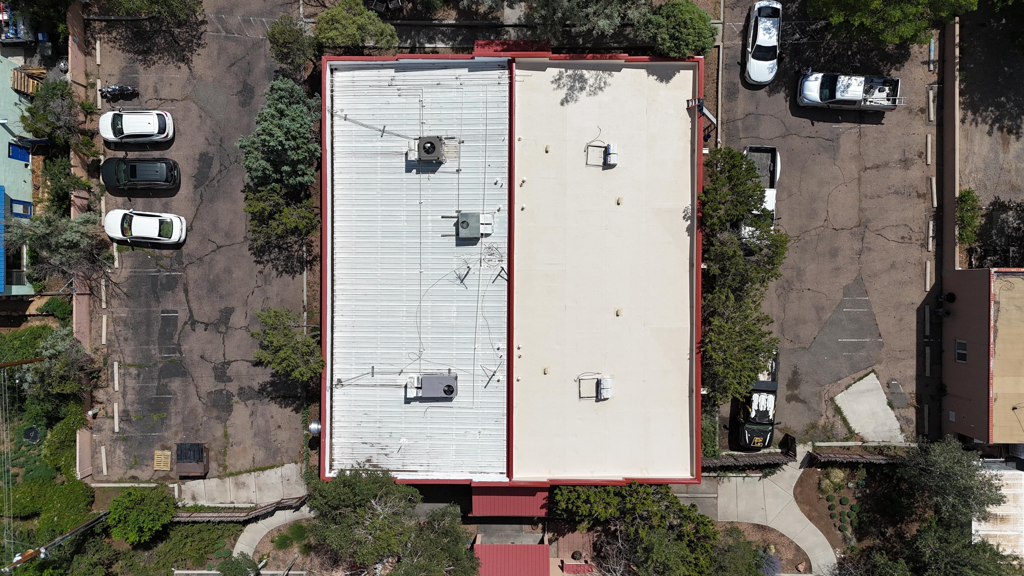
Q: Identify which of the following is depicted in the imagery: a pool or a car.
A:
car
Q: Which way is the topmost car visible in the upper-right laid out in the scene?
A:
vertically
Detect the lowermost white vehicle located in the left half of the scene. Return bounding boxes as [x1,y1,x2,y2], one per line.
[105,207,187,245]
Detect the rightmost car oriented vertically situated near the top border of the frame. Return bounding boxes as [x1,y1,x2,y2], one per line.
[742,4,783,86]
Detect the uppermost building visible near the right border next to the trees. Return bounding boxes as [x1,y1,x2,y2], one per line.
[943,268,1024,444]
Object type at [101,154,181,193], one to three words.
car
